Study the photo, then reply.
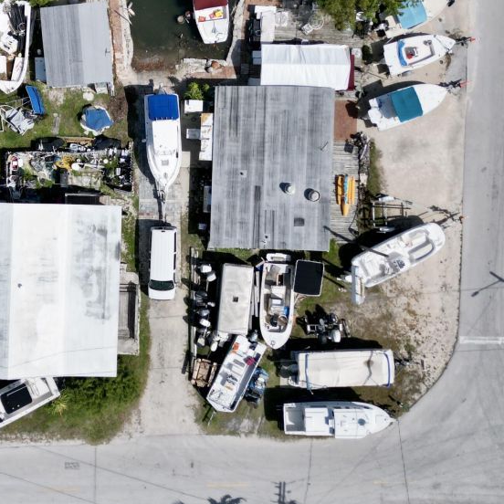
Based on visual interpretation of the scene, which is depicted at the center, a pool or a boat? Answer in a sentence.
What appears at the center is a boat.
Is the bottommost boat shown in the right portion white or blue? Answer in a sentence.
The bottommost boat shown in the right portion looks white in the image.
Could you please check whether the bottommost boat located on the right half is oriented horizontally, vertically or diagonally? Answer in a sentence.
The bottommost boat located on the right half is laid out horizontally.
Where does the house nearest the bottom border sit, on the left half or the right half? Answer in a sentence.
The house nearest the bottom border sits on the left side.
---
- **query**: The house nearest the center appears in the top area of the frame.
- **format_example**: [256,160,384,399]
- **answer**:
[209,86,335,251]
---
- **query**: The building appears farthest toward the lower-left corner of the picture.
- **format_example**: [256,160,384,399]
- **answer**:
[0,203,121,381]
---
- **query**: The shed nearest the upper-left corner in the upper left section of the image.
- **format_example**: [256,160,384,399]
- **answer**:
[39,1,113,87]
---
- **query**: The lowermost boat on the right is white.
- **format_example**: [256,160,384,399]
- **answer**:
[280,400,403,443]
